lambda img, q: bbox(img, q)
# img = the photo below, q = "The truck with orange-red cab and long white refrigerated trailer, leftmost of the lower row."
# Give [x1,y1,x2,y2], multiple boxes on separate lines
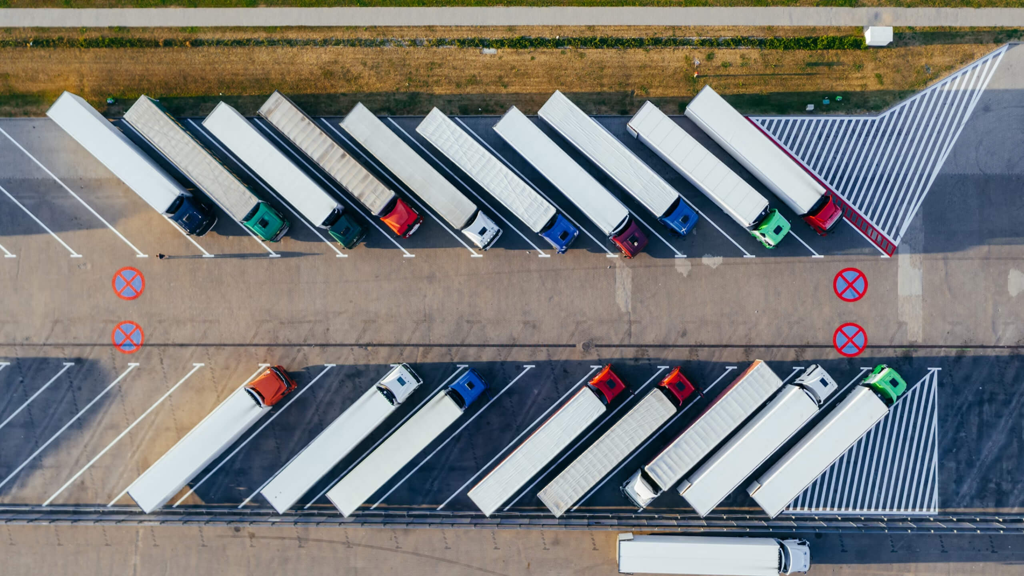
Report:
[127,362,300,513]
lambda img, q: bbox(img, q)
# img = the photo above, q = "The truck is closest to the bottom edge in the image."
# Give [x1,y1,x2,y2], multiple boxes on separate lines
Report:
[619,532,811,575]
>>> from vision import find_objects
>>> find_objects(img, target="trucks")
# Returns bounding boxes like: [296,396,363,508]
[261,359,426,514]
[202,101,370,251]
[619,532,811,575]
[493,106,655,260]
[123,94,295,247]
[46,91,220,239]
[538,90,704,242]
[416,107,584,258]
[678,361,842,517]
[339,102,507,255]
[618,359,783,510]
[537,363,701,517]
[685,85,849,239]
[627,100,793,250]
[468,361,632,516]
[327,365,493,517]
[257,90,425,241]
[127,362,300,513]
[746,363,911,518]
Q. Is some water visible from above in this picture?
No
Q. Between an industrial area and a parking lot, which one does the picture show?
parking lot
